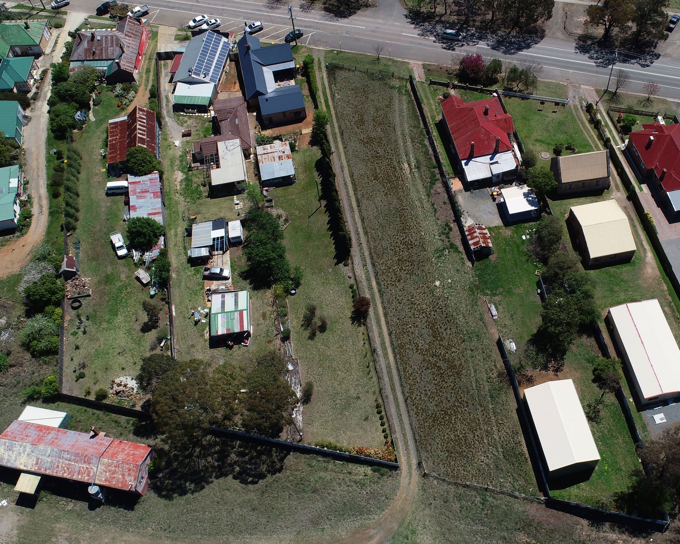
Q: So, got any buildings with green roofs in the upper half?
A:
Yes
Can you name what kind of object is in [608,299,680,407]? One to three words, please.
shed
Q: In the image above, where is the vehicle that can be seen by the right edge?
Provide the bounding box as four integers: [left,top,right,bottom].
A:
[666,12,680,31]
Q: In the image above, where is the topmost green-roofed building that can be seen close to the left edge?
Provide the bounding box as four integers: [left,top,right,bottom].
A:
[0,20,54,62]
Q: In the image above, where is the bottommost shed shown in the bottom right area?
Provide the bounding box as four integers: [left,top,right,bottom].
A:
[523,379,601,477]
